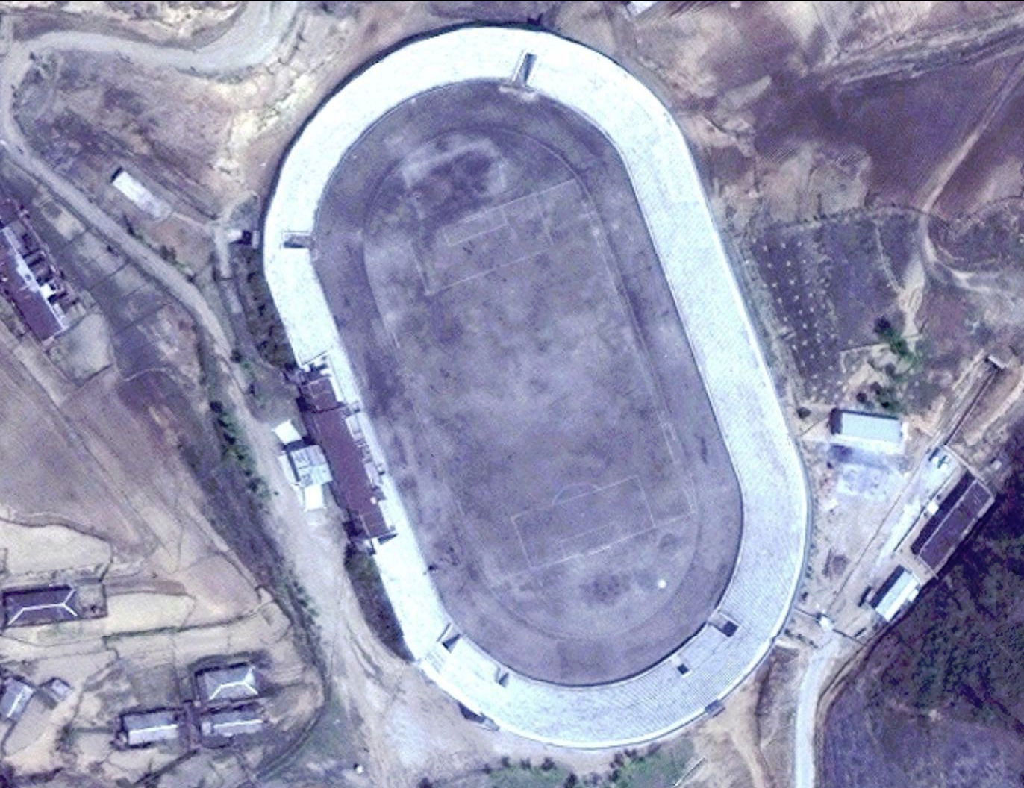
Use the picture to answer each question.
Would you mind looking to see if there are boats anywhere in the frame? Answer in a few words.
No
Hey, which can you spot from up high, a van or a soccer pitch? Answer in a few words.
soccer pitch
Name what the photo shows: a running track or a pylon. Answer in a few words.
running track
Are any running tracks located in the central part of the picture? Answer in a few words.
Yes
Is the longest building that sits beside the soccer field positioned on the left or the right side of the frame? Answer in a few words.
left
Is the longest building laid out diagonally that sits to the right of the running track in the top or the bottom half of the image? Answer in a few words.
bottom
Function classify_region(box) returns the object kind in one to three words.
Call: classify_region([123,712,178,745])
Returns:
house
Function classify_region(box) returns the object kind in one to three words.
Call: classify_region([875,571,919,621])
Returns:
building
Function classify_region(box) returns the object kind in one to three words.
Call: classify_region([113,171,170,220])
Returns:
shed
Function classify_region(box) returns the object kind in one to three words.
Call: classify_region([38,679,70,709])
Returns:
shed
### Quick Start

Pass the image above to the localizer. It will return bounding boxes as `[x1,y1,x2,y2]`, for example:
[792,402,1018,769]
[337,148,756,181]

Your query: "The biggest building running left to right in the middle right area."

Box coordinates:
[831,410,907,455]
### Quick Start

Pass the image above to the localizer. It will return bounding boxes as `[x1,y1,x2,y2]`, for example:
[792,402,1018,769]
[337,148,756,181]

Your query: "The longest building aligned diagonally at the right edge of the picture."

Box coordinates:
[919,480,995,572]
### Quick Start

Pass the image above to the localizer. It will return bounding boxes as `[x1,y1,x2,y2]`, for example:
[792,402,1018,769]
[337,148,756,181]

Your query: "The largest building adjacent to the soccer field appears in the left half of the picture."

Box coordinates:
[302,363,397,551]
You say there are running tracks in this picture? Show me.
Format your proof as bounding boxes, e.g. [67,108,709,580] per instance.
[310,79,743,687]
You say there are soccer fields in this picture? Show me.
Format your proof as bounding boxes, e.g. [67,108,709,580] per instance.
[363,128,699,638]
